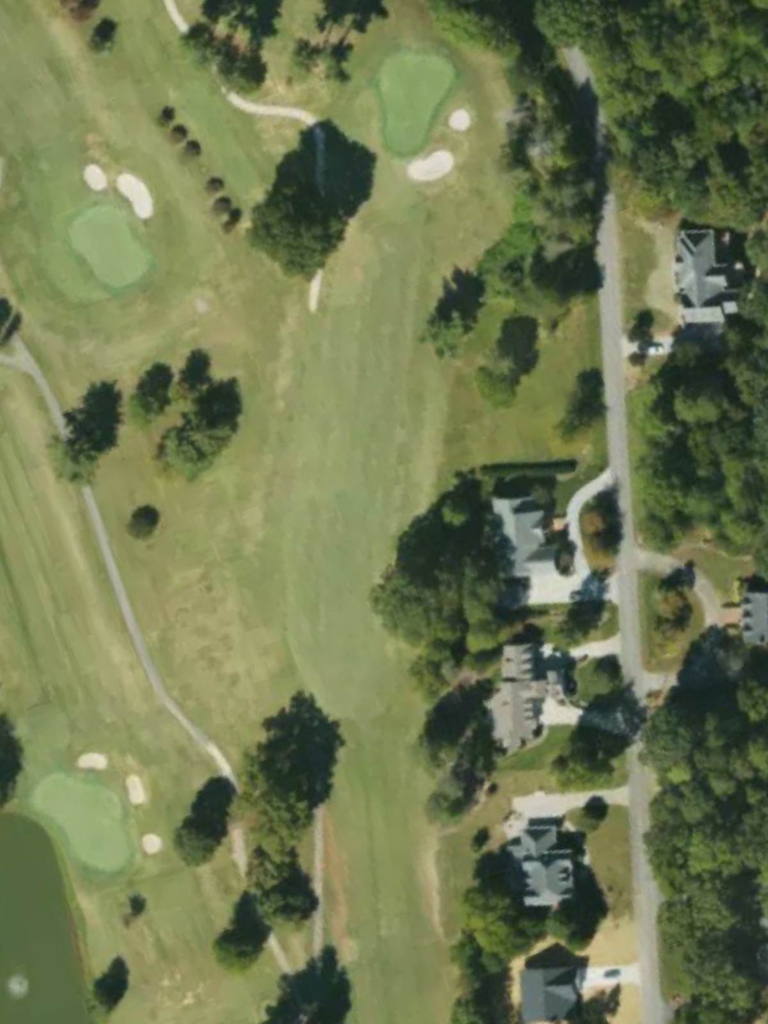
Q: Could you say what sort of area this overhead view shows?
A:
golf course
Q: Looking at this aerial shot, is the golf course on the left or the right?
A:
left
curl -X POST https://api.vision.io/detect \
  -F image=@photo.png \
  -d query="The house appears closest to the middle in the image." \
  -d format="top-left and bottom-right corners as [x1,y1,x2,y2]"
[491,498,558,578]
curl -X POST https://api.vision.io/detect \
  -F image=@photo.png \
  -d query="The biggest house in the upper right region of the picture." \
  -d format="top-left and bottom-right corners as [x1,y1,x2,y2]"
[674,229,730,323]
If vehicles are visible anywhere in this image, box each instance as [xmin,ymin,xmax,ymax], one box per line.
[605,970,620,977]
[648,345,664,352]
